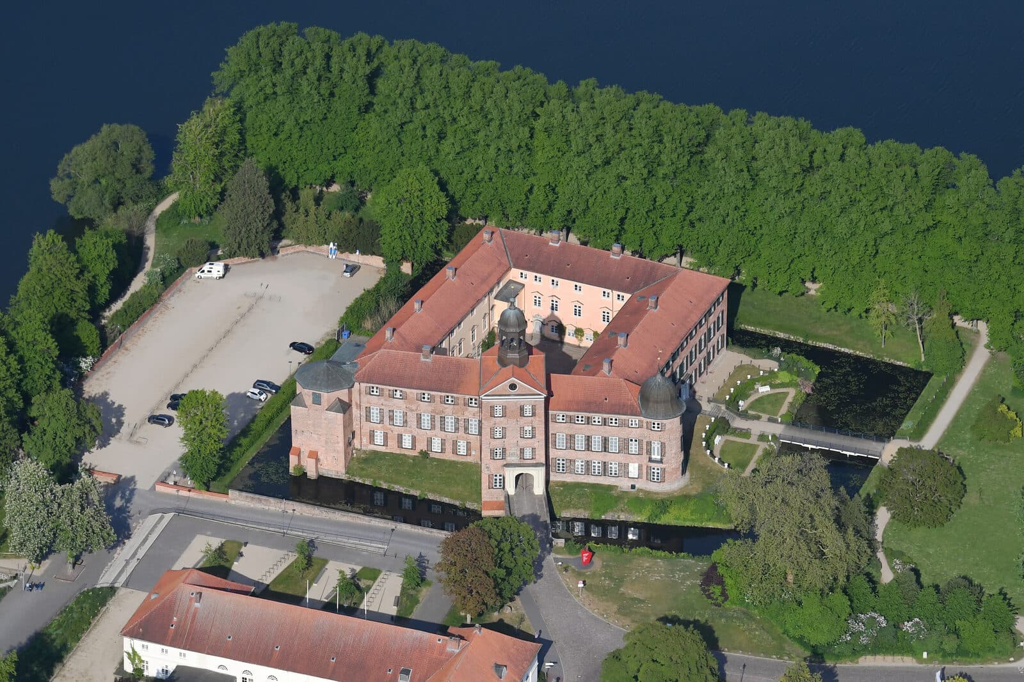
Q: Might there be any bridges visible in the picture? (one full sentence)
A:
Yes, a bridge appears in the view.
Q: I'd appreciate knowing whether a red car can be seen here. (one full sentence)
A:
No, I can't see a single red car in this photo.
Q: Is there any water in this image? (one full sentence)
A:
Yes, water can be seen from above here.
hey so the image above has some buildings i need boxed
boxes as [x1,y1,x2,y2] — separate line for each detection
[289,226,731,510]
[120,567,546,682]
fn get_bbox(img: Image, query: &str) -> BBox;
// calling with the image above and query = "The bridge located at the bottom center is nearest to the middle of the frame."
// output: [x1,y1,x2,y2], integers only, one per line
[506,491,552,559]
